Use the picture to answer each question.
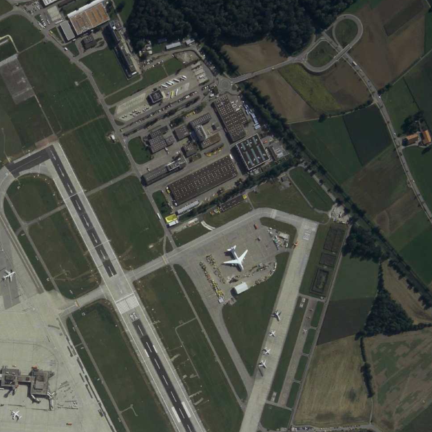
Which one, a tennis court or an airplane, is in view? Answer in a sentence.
There is an airplane in the scene.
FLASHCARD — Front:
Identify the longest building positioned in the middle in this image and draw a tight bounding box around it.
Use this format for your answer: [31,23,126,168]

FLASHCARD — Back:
[168,155,238,204]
